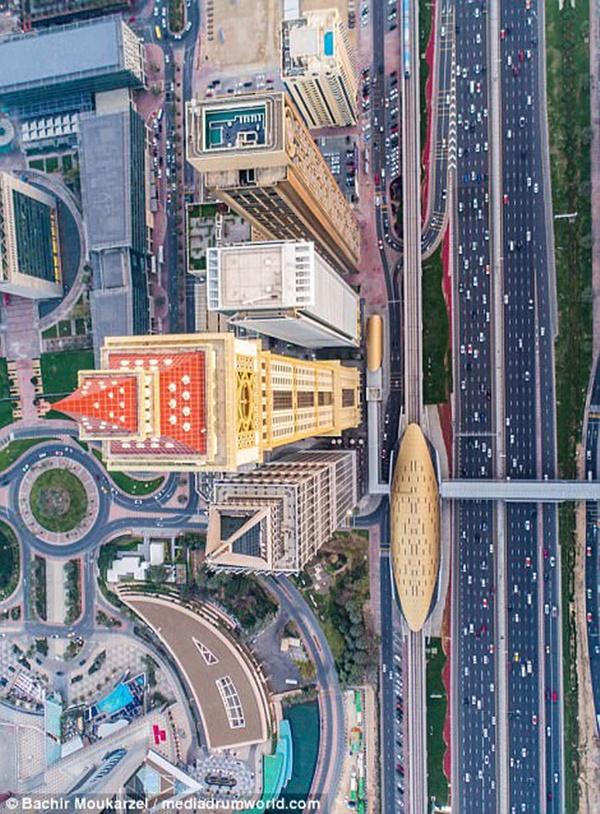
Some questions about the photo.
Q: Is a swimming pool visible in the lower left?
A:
Yes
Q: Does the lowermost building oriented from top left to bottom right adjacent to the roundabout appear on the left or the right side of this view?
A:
left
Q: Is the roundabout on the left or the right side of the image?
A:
left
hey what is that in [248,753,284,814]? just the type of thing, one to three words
swimming pool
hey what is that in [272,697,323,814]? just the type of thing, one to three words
pond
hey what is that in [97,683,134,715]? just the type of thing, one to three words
swimming pool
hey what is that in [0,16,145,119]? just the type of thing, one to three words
building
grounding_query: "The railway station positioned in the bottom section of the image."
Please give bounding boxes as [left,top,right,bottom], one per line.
[388,425,443,632]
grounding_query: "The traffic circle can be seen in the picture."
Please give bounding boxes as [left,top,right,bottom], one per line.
[7,444,111,556]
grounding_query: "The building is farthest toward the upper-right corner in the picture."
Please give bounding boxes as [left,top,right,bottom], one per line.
[282,9,361,134]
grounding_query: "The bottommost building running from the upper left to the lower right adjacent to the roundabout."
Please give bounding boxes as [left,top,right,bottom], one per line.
[115,588,274,751]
